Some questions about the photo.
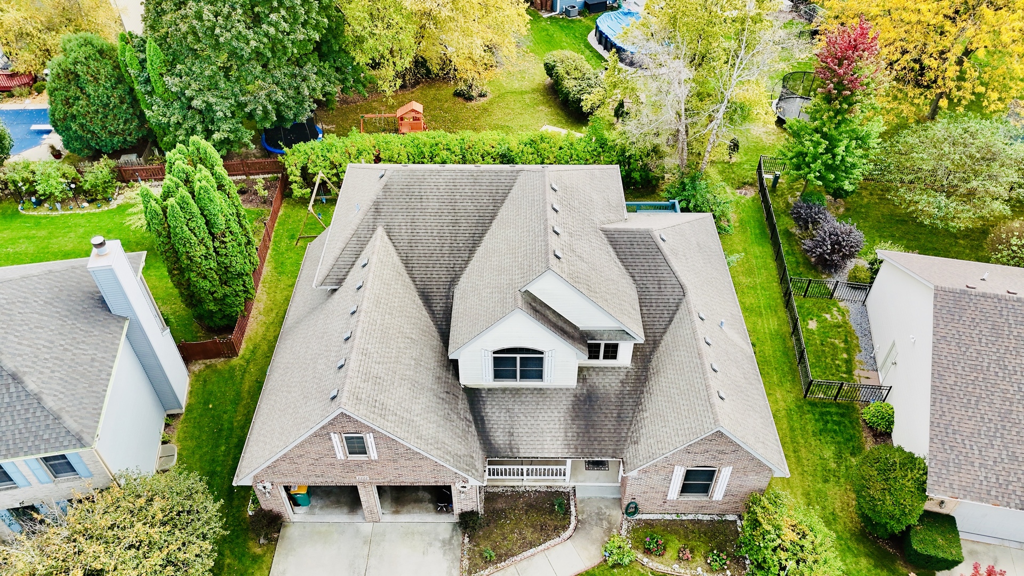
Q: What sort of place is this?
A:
residential area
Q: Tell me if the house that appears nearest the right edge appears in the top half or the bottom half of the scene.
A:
bottom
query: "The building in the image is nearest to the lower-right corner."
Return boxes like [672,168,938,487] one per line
[867,254,1024,548]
